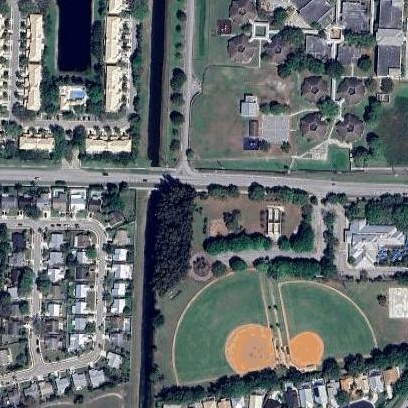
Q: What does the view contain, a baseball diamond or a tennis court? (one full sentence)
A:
I can see a baseball diamond in this picture.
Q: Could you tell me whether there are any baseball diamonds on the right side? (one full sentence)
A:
Yes, looking on the right side, one can make out a baseball diamond.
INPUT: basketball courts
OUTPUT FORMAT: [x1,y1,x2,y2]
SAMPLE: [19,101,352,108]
[263,115,288,141]
[389,288,408,317]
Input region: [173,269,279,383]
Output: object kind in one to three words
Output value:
baseball field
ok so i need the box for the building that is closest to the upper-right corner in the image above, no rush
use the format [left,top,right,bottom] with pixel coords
[380,0,403,28]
